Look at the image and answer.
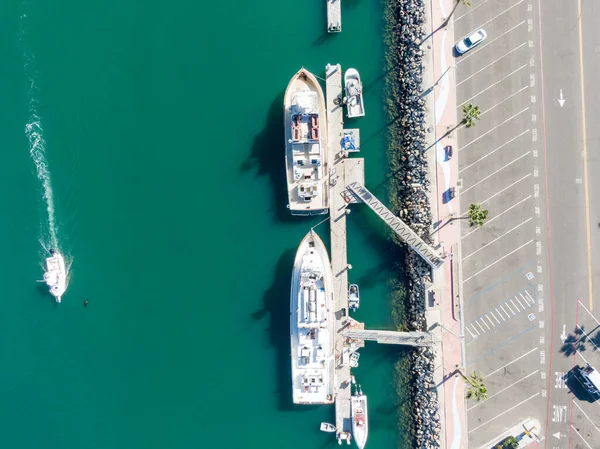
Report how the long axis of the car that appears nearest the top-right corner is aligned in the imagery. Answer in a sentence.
The car that appears nearest the top-right corner has been laid out diagonally relative to the frame.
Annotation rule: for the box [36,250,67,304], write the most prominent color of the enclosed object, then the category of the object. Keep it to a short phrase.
white boat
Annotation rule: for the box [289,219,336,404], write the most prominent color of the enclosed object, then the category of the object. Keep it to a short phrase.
white boat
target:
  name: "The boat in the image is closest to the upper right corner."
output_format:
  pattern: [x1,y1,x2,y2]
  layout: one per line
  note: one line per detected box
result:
[341,67,365,120]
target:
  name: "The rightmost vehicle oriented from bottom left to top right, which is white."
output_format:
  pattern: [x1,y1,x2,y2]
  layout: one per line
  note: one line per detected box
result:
[455,26,489,54]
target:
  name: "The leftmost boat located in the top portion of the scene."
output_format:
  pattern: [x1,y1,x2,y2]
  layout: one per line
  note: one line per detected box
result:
[284,64,331,217]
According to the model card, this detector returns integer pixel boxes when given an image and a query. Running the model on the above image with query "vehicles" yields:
[580,362,600,393]
[455,26,489,54]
